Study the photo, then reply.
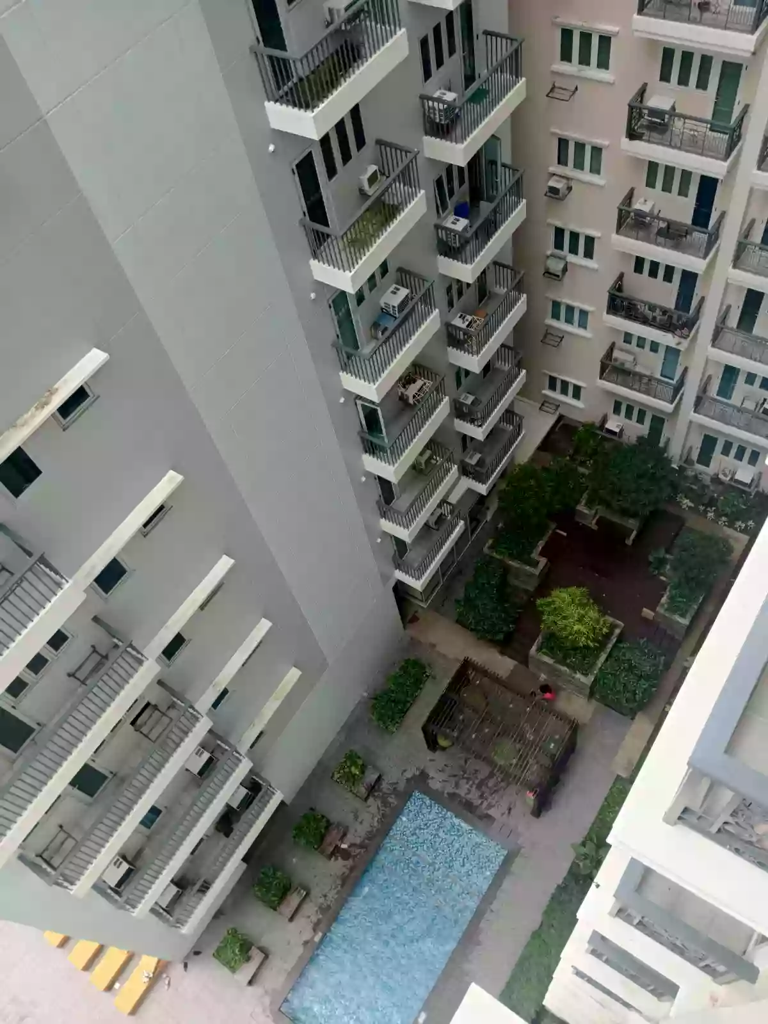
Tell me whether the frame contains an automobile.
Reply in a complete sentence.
No, I can't see a single automobile in this photo.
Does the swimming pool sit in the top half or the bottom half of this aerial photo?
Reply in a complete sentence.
The swimming pool is in the bottom half of the image.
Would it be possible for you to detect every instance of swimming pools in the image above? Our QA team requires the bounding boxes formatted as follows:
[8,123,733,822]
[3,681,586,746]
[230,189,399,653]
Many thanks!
[267,776,523,1024]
